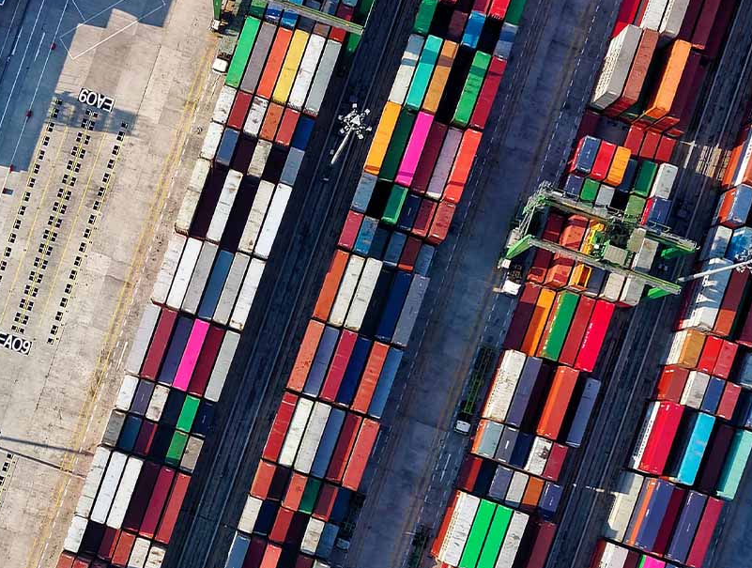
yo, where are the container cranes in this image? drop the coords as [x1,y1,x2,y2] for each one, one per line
[494,181,710,308]
[254,0,380,73]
